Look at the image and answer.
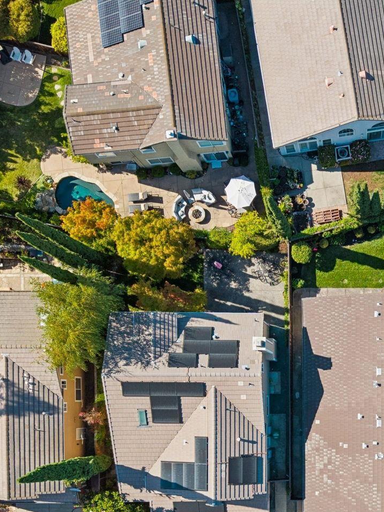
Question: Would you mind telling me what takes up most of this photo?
buildings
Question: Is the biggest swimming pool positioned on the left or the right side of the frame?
left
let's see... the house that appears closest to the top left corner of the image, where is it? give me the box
[63,0,234,176]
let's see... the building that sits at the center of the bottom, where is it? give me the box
[101,312,286,512]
